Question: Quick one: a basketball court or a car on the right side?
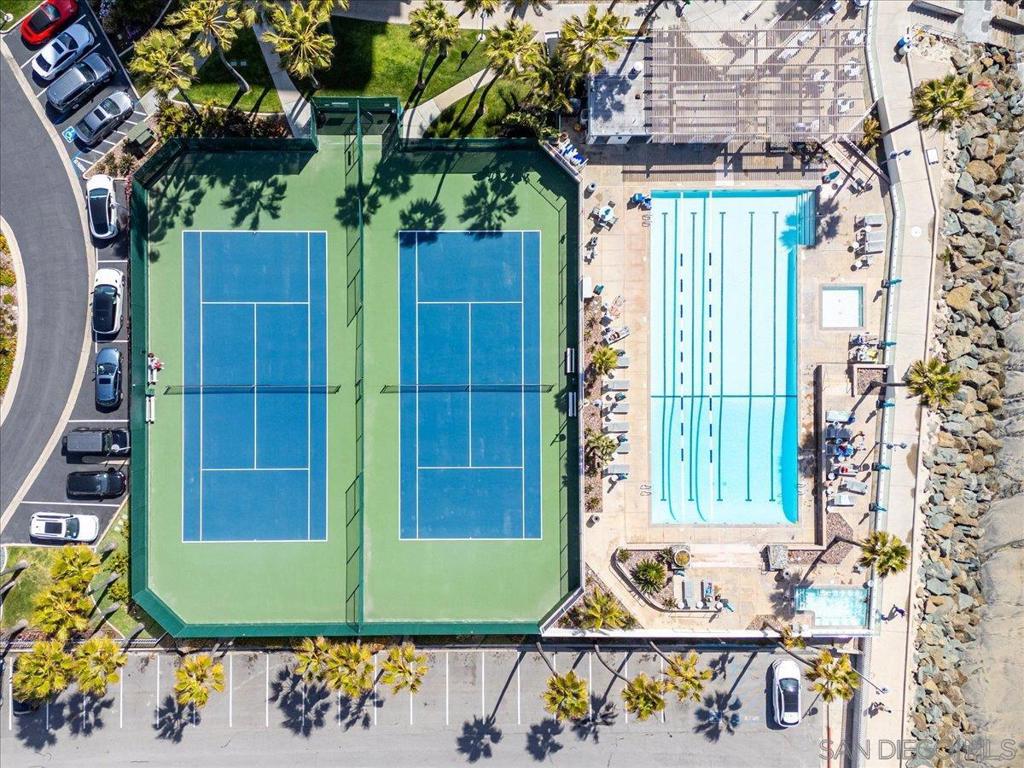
car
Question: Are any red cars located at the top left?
Yes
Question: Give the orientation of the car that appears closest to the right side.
from top to bottom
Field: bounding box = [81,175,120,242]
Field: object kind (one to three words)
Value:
car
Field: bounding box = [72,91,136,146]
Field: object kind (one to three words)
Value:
car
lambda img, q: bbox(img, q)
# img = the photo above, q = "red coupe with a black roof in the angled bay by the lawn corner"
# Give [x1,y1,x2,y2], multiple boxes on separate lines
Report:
[18,0,81,47]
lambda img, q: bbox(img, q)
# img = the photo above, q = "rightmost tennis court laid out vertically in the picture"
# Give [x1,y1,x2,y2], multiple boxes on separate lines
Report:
[363,111,577,624]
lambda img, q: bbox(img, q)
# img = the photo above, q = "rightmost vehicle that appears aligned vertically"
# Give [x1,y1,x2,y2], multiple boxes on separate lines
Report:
[770,656,800,726]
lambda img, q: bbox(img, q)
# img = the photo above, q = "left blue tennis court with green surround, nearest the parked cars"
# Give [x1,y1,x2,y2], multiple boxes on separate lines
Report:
[149,111,363,625]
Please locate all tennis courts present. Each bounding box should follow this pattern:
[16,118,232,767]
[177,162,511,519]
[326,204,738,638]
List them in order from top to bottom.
[149,111,363,625]
[363,111,577,624]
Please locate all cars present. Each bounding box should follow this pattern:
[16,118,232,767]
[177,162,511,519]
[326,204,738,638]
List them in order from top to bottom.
[18,0,81,47]
[29,26,96,80]
[46,54,114,109]
[72,91,136,146]
[81,175,120,242]
[89,268,126,334]
[89,348,123,410]
[59,428,129,458]
[64,471,129,500]
[27,512,102,543]
[770,656,800,726]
